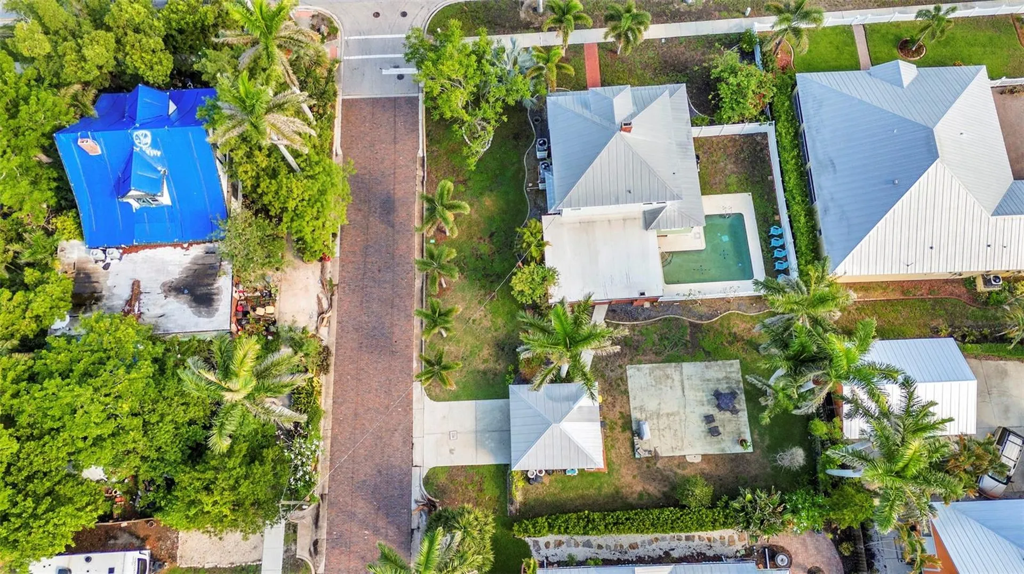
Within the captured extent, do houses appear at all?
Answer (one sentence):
Yes, this view includes a house.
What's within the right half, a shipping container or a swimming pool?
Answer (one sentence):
There is a swimming pool within the right half.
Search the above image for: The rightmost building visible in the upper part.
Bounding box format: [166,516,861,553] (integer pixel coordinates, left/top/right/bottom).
[795,59,1024,283]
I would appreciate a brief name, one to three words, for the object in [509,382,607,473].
building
